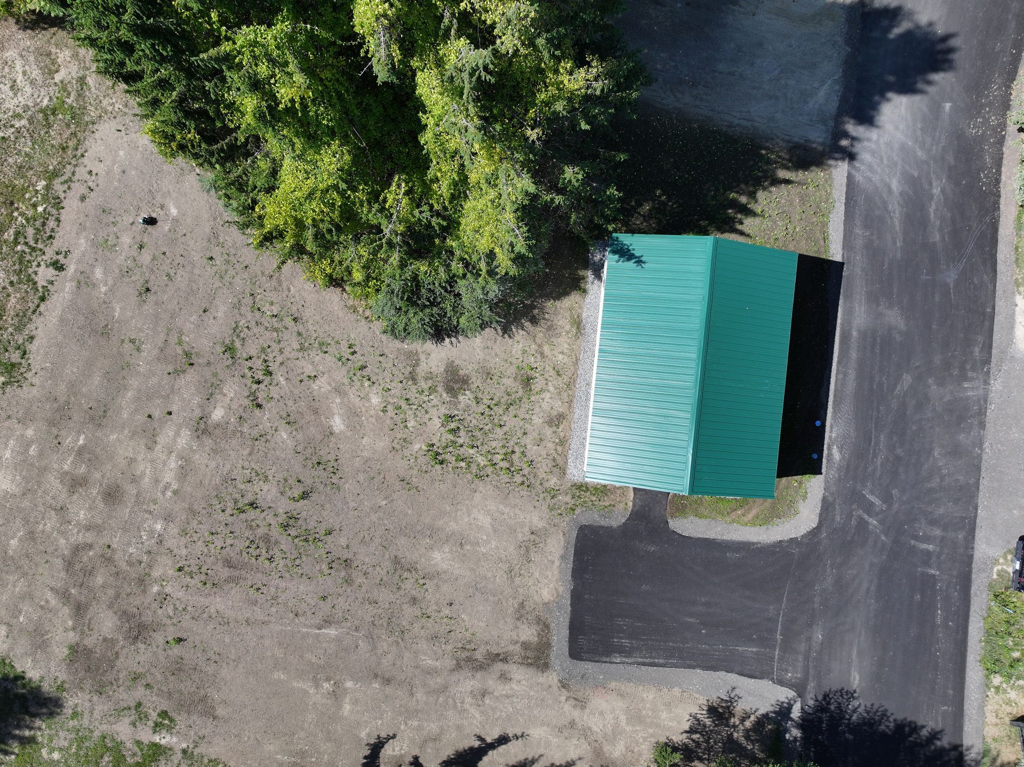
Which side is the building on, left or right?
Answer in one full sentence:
The building is on the right side of the image.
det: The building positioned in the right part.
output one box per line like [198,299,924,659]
[583,232,799,500]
